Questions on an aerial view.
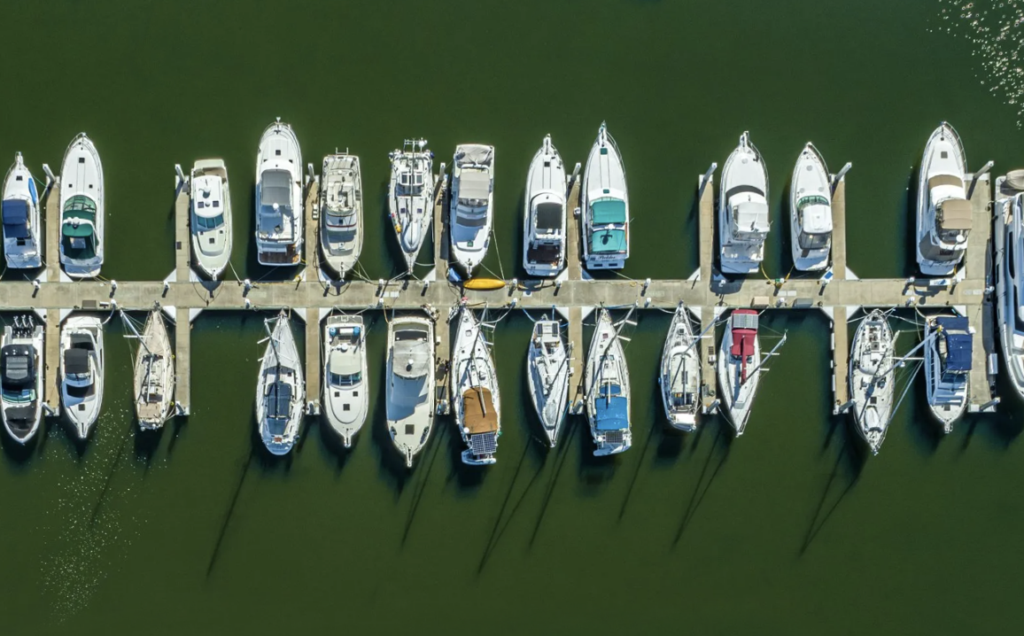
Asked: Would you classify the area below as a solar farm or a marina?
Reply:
marina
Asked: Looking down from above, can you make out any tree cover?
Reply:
No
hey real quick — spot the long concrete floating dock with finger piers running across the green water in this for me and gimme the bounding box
[0,173,996,416]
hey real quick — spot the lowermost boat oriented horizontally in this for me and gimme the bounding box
[458,450,498,465]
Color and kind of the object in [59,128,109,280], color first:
white boat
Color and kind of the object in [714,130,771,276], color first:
white boat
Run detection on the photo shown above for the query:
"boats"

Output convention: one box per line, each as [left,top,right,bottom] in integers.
[323,316,374,447]
[0,316,48,443]
[464,278,506,289]
[527,315,576,451]
[188,162,234,284]
[2,148,46,271]
[318,147,365,281]
[119,305,174,431]
[852,312,942,457]
[59,128,109,280]
[520,129,567,278]
[255,306,305,456]
[580,119,633,272]
[993,178,1024,415]
[61,320,109,443]
[1000,170,1024,189]
[714,130,771,276]
[458,450,498,465]
[788,139,834,275]
[253,116,304,269]
[720,309,788,438]
[921,317,974,436]
[385,317,437,470]
[661,300,720,429]
[911,116,972,277]
[389,137,434,278]
[447,144,497,281]
[448,302,498,458]
[586,302,639,457]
